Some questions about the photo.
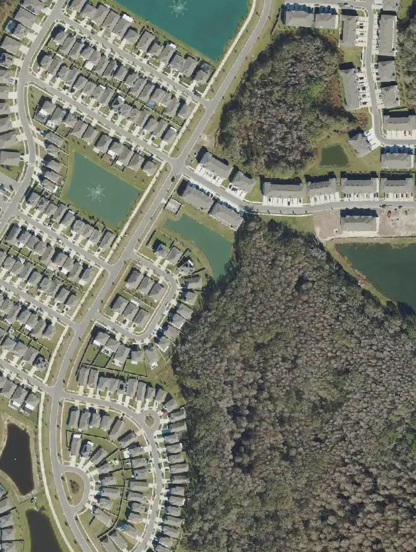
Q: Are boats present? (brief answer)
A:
No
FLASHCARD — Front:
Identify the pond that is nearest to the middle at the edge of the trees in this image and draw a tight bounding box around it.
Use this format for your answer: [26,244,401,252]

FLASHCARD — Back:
[164,215,233,281]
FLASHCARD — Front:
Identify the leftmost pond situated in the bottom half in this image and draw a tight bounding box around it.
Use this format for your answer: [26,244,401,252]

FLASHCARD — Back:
[0,423,34,496]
